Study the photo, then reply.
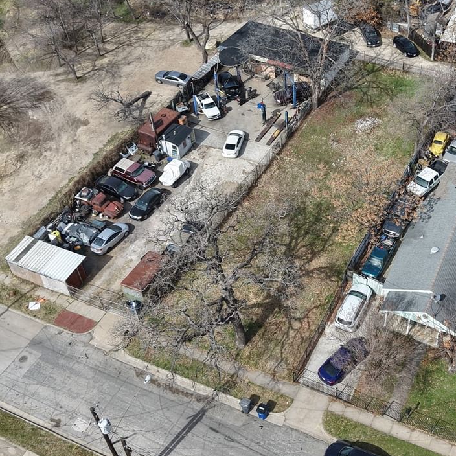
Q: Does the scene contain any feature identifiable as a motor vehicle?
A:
Yes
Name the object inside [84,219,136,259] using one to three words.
car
